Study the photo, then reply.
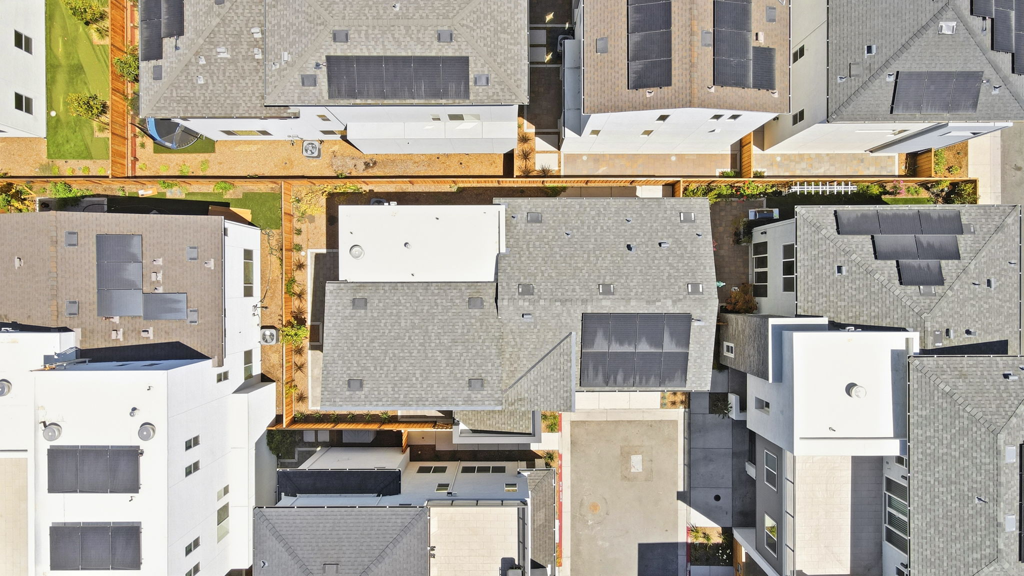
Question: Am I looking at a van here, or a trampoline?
trampoline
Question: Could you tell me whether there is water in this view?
No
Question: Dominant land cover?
buildings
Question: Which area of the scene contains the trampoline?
top left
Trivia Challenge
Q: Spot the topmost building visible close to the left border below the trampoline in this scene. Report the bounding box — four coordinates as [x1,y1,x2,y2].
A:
[0,210,267,367]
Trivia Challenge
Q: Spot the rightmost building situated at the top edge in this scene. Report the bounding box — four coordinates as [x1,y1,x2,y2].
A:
[760,0,1024,155]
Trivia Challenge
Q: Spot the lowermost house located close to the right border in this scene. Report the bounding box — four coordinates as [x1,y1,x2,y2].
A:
[721,313,1024,576]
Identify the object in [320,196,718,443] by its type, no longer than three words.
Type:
house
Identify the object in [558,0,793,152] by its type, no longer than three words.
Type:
house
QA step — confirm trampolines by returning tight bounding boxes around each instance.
[133,121,209,156]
